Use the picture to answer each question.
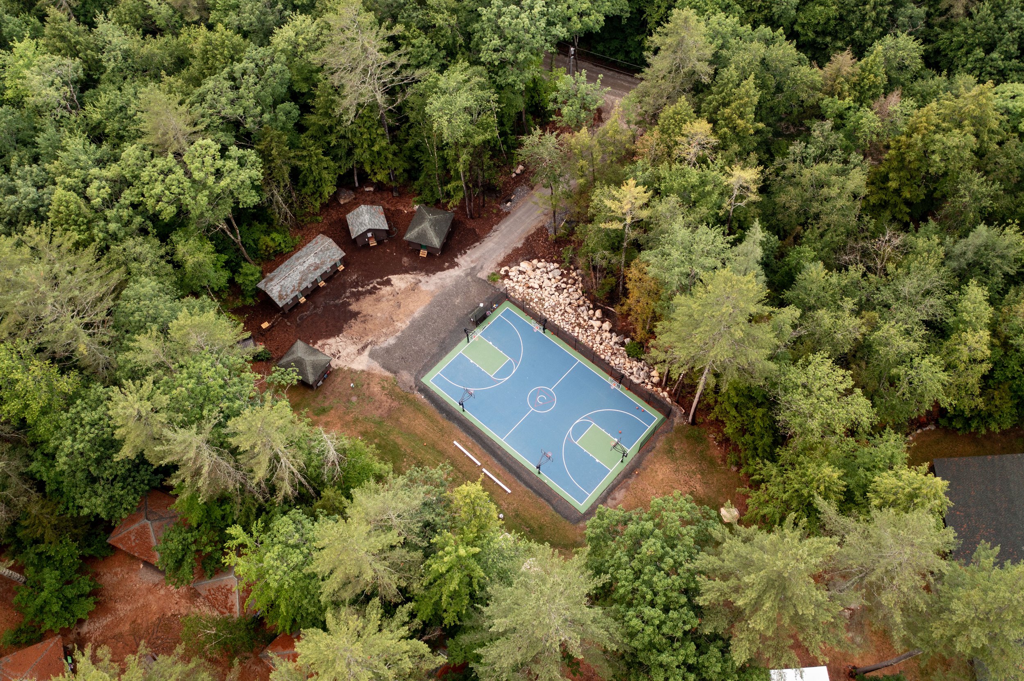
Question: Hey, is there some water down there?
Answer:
No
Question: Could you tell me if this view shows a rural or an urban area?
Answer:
rural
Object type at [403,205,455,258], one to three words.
building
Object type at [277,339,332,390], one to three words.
building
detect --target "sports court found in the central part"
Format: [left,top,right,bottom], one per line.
[422,300,666,514]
